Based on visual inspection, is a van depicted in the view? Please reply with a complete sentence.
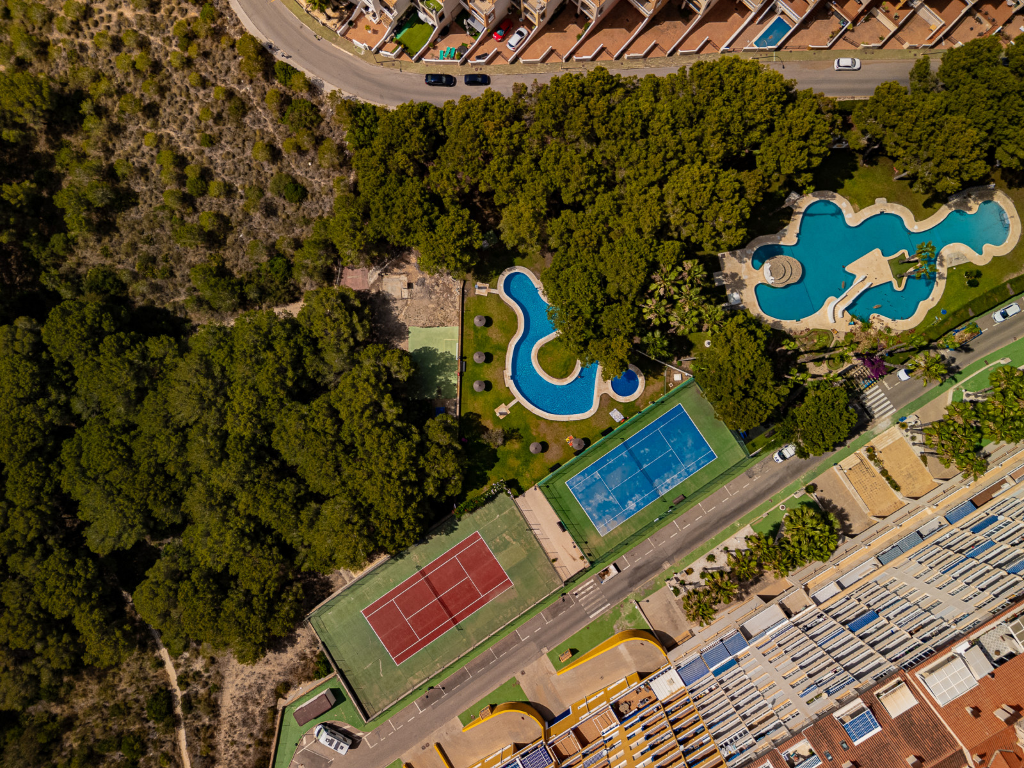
Yes, looking at the shot, I can spot a van.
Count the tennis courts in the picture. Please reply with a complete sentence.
Altogether the scene contains 2 tennis courts.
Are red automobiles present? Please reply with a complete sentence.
Yes, looking at the shot, I can spot a red automobile.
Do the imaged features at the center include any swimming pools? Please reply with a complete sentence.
Yes, at the center there is a swimming pool.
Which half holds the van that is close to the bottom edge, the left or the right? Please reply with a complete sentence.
You can find the van that is close to the bottom edge on the left side of the picture.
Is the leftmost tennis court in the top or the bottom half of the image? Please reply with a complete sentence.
The leftmost tennis court is in the bottom half of the image.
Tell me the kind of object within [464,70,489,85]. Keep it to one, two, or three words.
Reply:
car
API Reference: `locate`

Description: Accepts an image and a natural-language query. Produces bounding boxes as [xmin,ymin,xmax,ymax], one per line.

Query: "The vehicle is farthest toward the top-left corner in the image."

[425,71,454,86]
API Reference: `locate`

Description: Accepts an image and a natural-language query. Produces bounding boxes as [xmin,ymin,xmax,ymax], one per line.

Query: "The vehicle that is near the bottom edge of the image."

[312,728,352,765]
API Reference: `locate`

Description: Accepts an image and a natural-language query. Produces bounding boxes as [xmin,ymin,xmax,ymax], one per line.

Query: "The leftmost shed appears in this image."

[289,689,335,732]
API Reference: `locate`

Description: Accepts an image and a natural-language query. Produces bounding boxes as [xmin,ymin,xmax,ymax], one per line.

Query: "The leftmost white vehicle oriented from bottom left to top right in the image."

[506,24,529,49]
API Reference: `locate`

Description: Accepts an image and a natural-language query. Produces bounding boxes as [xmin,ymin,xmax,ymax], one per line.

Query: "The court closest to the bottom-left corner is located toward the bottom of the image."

[310,491,562,719]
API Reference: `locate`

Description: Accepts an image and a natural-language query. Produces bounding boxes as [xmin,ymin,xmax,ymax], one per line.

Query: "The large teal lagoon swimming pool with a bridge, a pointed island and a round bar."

[713,189,1022,333]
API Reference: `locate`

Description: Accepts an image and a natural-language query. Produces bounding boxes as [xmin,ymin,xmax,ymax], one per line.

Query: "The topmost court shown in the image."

[540,381,748,565]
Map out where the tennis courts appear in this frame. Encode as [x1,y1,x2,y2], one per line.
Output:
[540,381,748,565]
[310,491,562,719]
